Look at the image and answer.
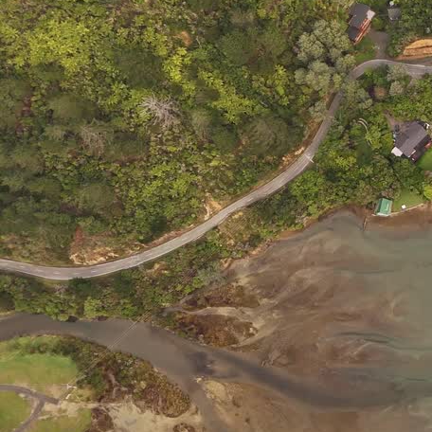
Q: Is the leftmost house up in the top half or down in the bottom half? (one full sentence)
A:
The leftmost house is in the top half of the image.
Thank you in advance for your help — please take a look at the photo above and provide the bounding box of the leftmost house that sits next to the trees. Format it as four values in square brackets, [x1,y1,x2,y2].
[346,2,375,44]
